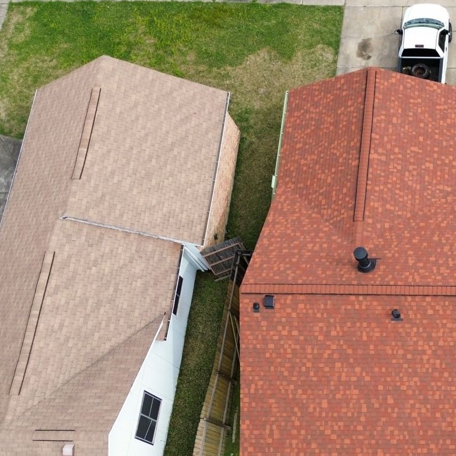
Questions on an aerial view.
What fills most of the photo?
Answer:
buildings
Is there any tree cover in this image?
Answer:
No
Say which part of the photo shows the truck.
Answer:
top right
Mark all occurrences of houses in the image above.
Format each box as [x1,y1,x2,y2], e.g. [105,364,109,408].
[239,68,456,456]
[0,59,239,456]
